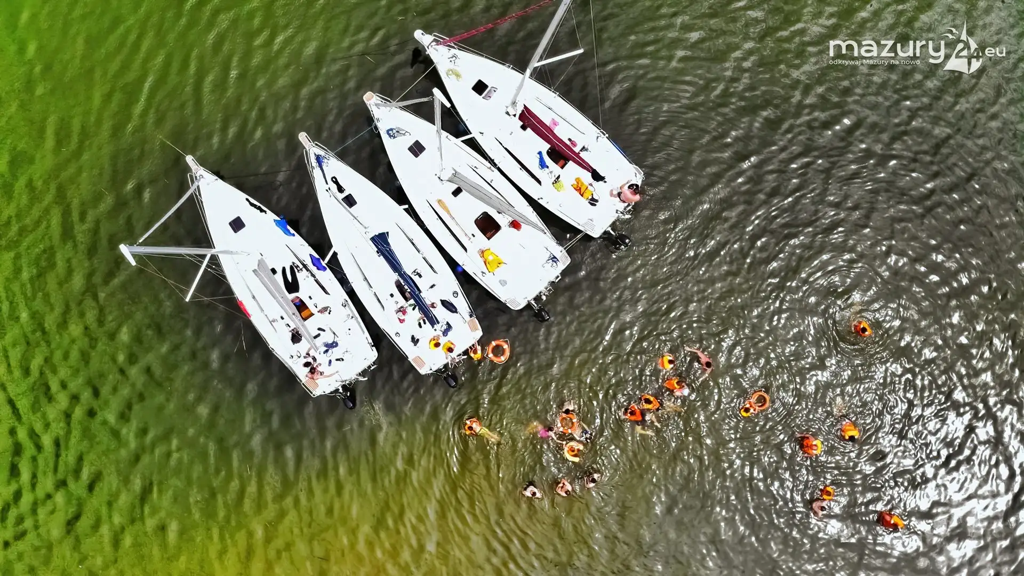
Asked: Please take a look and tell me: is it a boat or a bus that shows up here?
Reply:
boat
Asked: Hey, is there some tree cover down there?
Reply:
No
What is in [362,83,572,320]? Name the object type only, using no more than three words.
boat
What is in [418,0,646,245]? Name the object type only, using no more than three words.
boat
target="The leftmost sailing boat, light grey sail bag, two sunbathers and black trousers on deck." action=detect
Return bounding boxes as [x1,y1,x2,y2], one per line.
[119,151,377,407]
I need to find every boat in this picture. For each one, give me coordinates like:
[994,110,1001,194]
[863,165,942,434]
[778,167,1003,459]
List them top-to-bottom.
[418,0,646,245]
[362,83,572,320]
[300,130,484,388]
[119,151,377,407]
